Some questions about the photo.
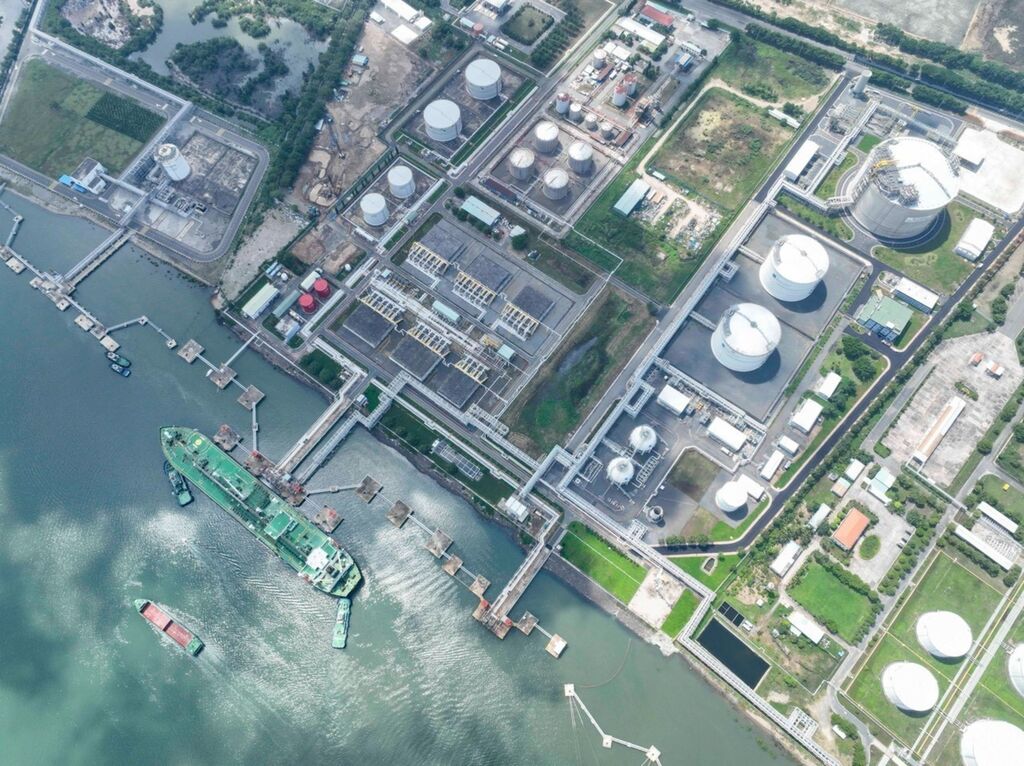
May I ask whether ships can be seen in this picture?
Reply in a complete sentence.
Yes, this view includes a ship.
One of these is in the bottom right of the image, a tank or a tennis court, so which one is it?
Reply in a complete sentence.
Looking in the bottom right of the image, you will find a tank.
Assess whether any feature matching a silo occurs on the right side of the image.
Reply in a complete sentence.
Yes, a silo shows up on the right side of the image.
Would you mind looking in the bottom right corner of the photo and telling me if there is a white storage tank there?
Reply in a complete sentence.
Yes, a white storage tank shows up in the bottom right corner of the photo.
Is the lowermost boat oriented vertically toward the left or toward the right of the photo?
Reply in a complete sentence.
The lowermost boat oriented vertically is on the left side of the image.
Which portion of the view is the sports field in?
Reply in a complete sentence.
The sports field is located in the bottom right region of the scene.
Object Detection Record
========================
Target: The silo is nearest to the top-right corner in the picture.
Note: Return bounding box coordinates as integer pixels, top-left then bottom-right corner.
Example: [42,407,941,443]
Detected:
[849,68,873,98]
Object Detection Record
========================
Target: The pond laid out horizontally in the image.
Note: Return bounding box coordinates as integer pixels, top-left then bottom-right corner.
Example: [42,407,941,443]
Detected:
[129,0,328,112]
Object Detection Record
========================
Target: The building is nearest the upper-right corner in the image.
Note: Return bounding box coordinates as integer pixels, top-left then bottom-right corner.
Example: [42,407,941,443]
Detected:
[950,129,988,166]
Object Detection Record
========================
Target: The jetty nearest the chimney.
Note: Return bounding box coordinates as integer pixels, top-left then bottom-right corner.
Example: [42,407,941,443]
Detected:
[495,517,576,616]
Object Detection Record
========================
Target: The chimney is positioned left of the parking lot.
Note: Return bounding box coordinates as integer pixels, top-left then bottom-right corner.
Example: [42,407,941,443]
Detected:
[645,506,663,524]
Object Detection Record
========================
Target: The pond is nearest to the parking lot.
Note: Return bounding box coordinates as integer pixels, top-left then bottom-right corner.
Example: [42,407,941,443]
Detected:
[697,618,770,689]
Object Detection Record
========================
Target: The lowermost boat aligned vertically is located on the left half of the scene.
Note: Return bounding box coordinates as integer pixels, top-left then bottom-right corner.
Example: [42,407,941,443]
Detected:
[331,597,352,649]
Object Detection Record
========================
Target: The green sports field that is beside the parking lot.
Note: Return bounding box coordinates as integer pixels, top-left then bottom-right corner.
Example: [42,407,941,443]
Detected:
[790,565,872,643]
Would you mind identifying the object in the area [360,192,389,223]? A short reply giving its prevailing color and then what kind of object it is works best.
white storage tank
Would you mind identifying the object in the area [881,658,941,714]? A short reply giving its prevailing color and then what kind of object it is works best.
white storage tank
